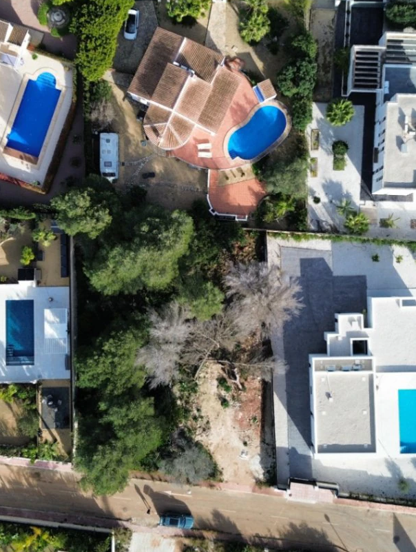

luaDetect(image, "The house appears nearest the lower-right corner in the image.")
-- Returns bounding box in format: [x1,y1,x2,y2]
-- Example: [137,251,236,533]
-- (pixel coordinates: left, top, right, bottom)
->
[307,296,416,454]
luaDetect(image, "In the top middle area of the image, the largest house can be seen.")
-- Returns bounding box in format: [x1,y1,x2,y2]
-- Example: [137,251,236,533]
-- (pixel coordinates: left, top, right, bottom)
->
[128,27,241,149]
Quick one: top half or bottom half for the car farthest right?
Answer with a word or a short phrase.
bottom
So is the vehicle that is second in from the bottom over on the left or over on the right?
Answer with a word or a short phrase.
left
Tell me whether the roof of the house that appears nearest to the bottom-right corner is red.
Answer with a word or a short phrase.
No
